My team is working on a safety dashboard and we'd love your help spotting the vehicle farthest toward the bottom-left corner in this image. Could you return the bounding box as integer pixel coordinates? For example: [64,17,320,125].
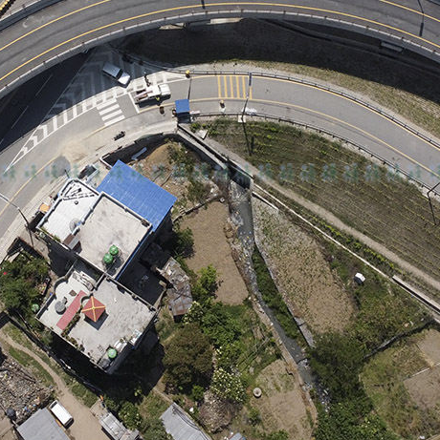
[48,397,76,430]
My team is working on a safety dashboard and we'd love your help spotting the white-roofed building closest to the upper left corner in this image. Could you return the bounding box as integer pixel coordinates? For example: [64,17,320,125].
[36,179,99,255]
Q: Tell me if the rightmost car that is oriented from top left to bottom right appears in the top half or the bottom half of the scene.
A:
top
